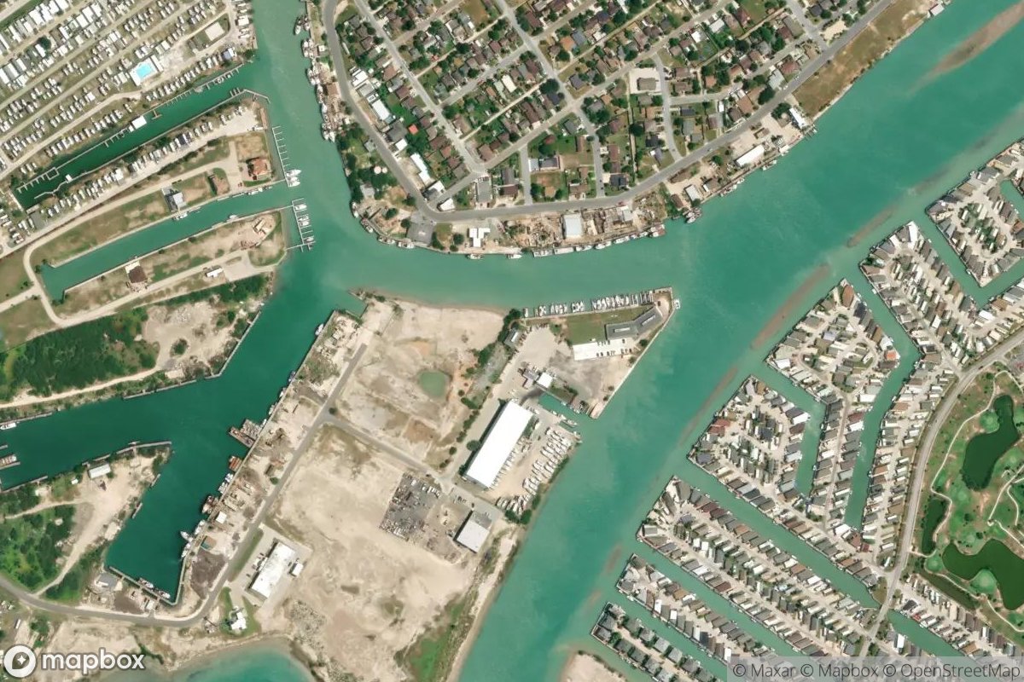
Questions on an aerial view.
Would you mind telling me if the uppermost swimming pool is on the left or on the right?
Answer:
left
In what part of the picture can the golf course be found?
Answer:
bottom right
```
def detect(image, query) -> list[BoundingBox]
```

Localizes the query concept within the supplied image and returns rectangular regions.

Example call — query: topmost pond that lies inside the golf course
[962,395,1020,491]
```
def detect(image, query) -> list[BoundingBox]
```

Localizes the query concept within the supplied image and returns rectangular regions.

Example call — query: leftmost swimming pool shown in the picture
[131,58,159,84]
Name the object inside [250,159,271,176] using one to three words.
house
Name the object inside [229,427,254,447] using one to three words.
ship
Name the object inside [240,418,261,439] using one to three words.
ship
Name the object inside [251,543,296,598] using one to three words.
building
